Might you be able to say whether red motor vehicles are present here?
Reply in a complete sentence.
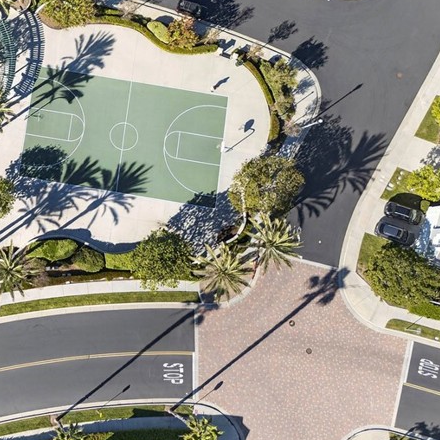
No, there is no red motor vehicle in the image.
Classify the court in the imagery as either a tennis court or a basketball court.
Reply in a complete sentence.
The court in the image is a basketball court.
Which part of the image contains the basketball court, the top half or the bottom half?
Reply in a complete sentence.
The basketball court is in the top half of the image.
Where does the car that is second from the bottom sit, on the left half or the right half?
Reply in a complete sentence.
It is on the right.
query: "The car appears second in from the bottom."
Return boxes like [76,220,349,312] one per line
[385,198,426,226]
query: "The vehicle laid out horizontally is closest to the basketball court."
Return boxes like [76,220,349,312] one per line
[177,0,210,14]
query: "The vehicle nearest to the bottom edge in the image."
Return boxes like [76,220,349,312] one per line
[377,218,417,245]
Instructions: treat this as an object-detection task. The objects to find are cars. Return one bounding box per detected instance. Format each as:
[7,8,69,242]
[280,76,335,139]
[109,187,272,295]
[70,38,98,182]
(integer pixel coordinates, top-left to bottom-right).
[377,218,417,245]
[177,0,210,14]
[385,198,426,226]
